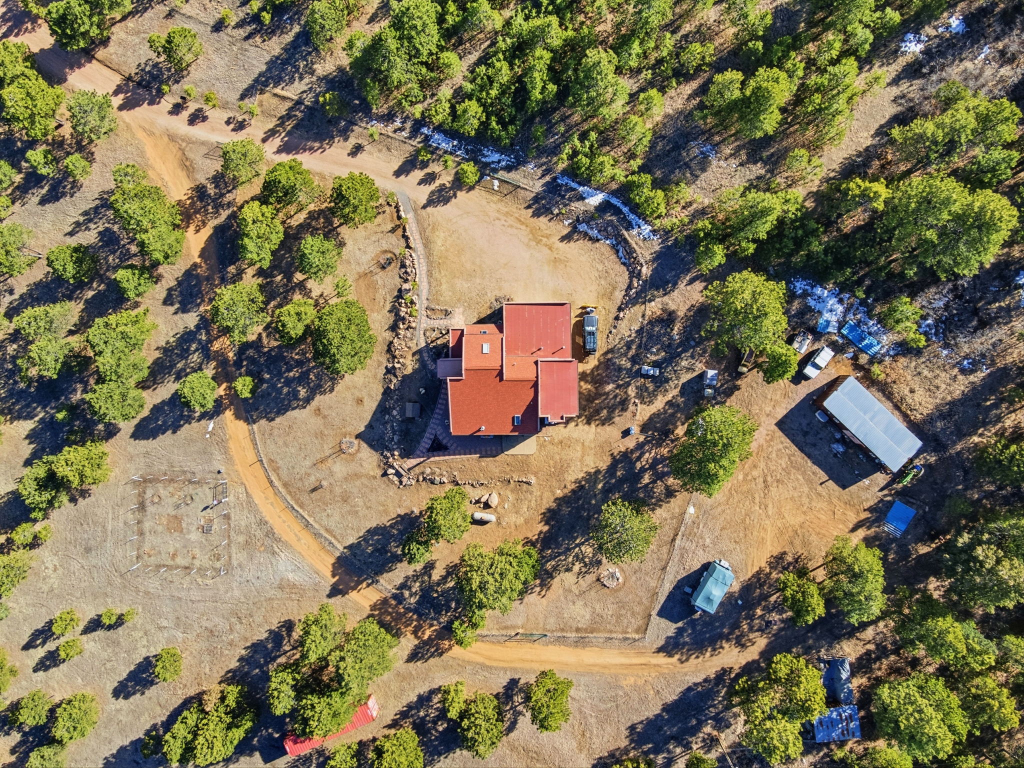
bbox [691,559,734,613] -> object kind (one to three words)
camper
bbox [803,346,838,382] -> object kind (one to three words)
car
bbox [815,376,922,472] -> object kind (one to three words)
barn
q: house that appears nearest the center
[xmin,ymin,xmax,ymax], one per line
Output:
[437,302,579,436]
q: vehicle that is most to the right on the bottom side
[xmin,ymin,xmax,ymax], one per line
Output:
[899,461,931,490]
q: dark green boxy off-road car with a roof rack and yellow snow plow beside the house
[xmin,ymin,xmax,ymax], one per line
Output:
[582,302,600,358]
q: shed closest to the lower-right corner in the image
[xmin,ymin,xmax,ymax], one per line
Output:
[806,700,861,743]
